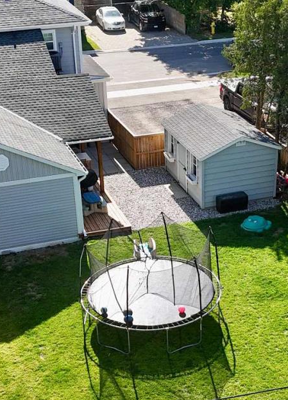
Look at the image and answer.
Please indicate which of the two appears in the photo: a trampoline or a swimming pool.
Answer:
trampoline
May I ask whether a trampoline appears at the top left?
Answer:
No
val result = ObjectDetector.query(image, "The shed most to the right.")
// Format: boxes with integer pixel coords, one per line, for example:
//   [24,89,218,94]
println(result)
[158,101,286,208]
